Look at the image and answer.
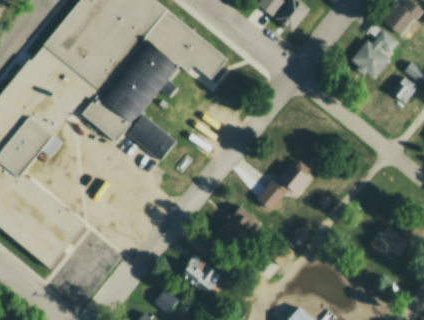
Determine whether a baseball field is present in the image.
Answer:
No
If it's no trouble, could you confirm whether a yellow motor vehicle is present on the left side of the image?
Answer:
Yes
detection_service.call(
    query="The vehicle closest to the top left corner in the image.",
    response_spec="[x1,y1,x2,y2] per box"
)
[68,122,87,138]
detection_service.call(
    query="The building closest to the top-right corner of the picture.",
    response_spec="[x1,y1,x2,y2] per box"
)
[385,0,424,40]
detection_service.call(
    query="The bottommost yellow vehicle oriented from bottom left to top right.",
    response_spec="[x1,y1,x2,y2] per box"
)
[93,182,111,205]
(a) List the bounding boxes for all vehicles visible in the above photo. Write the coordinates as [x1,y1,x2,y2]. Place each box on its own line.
[145,159,156,170]
[119,136,132,150]
[68,122,87,138]
[262,28,279,42]
[188,132,214,152]
[138,154,151,170]
[93,182,111,205]
[194,120,220,142]
[202,110,222,130]
[322,310,334,320]
[258,14,270,24]
[176,154,192,171]
[126,143,139,156]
